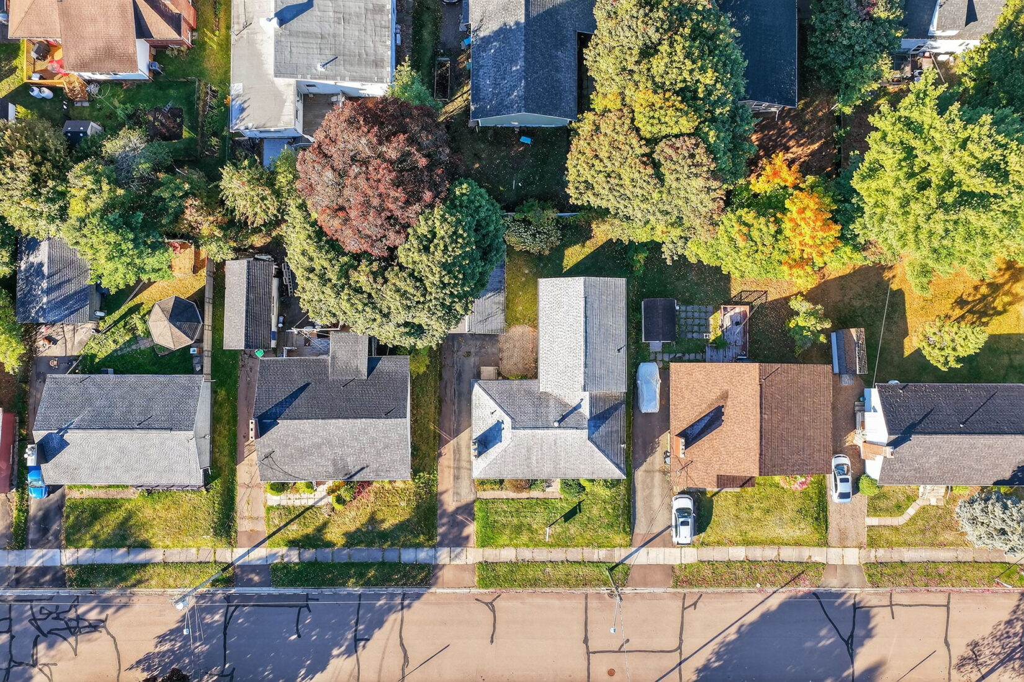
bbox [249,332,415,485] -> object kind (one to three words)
house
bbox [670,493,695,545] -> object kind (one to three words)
car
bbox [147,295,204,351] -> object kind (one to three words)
gazebo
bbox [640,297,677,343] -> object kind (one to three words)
shed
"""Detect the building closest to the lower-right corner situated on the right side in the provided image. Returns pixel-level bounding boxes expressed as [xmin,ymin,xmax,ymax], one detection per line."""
[849,382,1024,500]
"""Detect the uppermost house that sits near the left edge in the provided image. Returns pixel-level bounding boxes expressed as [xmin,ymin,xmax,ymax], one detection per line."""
[9,0,194,81]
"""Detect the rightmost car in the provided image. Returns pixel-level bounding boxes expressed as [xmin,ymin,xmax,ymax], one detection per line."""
[829,453,854,503]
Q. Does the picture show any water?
No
